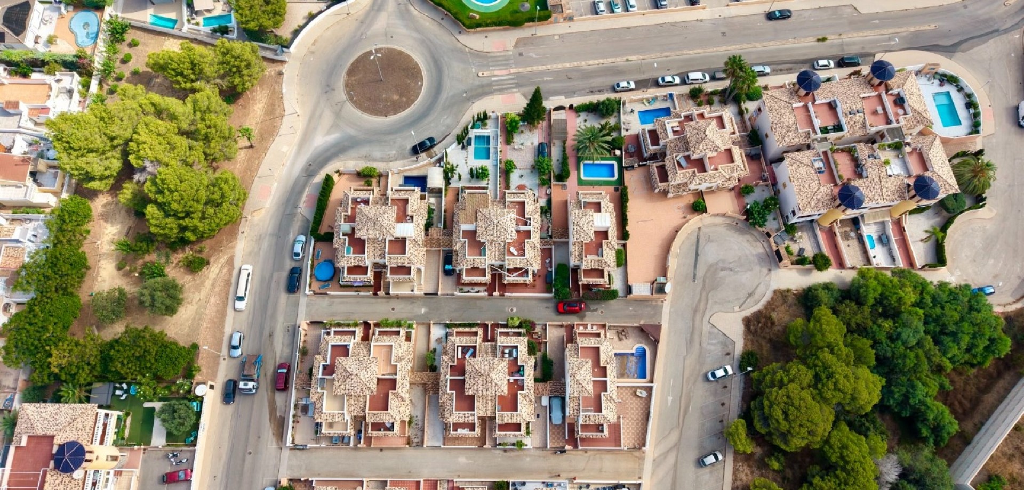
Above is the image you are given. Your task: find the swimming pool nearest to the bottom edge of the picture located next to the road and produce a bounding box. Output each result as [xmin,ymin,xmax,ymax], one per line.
[613,344,648,381]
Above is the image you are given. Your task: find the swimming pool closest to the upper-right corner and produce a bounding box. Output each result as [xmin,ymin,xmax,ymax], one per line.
[931,91,963,128]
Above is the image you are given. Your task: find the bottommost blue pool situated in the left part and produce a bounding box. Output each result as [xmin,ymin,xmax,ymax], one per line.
[313,260,337,283]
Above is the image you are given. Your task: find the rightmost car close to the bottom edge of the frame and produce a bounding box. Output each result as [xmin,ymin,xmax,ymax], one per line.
[698,450,724,467]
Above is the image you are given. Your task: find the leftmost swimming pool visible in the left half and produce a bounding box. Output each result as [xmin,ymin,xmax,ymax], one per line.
[69,8,100,46]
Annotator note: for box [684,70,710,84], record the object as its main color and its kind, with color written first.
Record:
white car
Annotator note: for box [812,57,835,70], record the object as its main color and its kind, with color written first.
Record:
white vehicle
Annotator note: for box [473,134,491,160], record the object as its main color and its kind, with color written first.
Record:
blue swimming pool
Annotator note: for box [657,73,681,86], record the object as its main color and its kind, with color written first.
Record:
white vehicle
